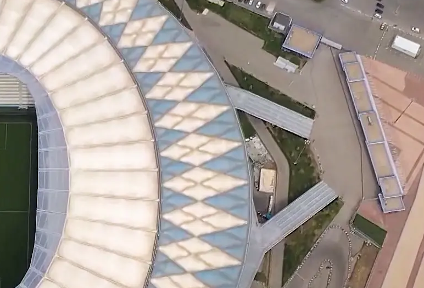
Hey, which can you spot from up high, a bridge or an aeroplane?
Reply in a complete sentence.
I can see a bridge in this picture.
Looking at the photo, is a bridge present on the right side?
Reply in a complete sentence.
Yes, a bridge can be seen on the right side.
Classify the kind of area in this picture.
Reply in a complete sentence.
The area seen from above is a sports ground.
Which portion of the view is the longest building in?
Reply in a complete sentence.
The longest building is located in the right region of the scene.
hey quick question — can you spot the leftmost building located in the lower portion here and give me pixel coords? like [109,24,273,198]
[258,168,276,196]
